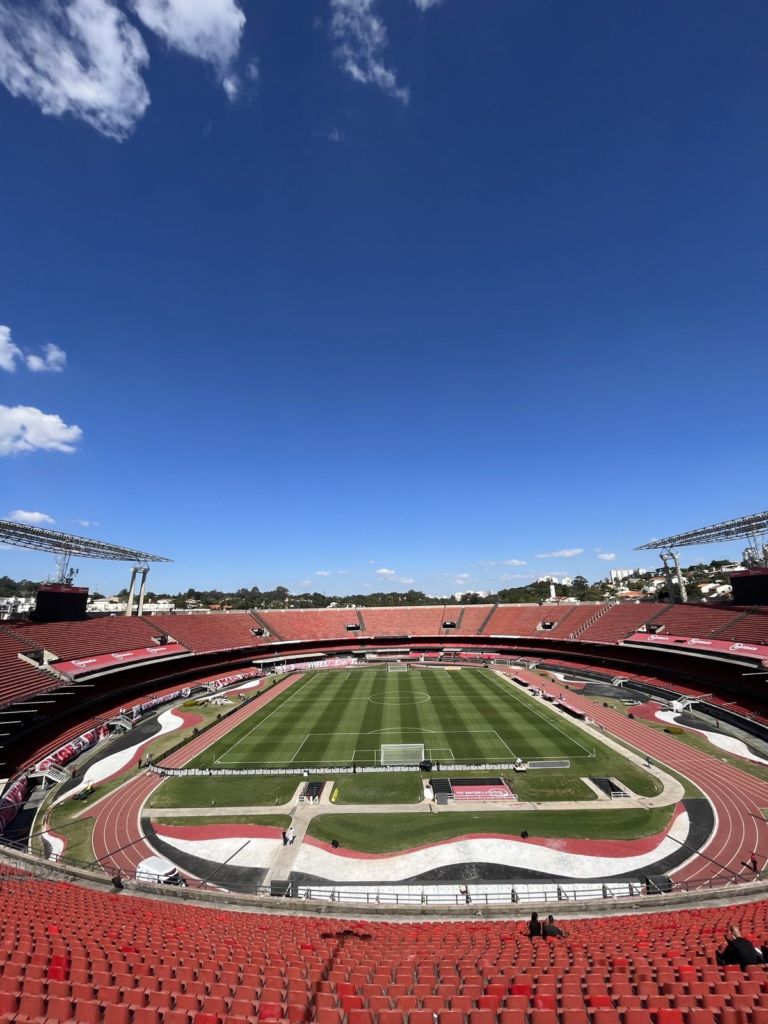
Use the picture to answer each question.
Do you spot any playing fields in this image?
Yes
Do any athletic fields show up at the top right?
No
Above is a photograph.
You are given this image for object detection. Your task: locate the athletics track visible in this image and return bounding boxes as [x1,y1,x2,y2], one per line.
[65,660,768,892]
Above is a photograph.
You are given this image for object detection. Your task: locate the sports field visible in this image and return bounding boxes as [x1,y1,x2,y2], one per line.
[194,669,625,769]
